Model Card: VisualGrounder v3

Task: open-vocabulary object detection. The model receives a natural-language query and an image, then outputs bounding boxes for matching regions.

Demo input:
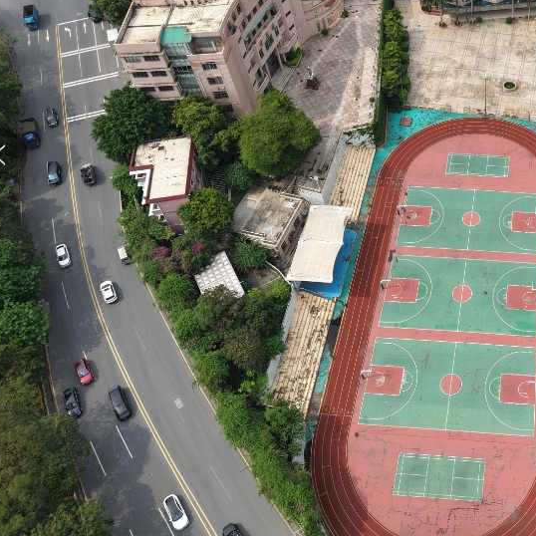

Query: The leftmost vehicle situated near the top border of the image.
[23,6,38,27]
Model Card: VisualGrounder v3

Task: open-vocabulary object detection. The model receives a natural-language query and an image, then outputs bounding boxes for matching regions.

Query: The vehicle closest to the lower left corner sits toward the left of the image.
[62,388,83,417]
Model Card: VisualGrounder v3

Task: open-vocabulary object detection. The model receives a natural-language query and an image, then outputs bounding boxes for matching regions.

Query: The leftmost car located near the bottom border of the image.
[163,494,190,530]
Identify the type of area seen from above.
sports ground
